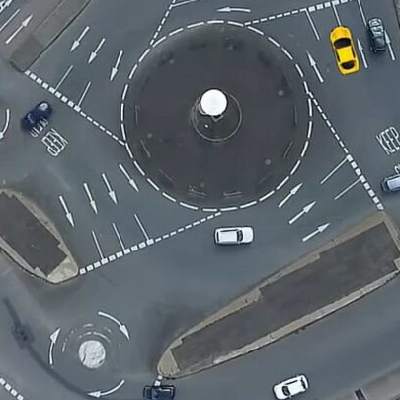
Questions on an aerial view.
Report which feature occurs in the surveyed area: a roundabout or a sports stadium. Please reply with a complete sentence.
I can see a roundabout in this picture.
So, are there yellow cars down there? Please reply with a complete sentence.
Yes, there is a yellow car in the image.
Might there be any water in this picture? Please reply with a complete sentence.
No, the picture contains no water.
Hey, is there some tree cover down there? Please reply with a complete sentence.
No, there is no tree cover in the image.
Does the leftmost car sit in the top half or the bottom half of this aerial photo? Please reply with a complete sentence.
The top half of the photo is where the leftmost car is.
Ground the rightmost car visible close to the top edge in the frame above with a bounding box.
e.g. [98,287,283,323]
[366,19,388,55]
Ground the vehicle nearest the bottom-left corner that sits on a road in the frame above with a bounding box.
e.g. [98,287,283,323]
[143,382,176,400]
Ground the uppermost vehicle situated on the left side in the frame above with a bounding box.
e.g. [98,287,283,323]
[22,101,54,131]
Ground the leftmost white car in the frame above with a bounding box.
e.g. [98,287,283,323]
[214,226,254,244]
